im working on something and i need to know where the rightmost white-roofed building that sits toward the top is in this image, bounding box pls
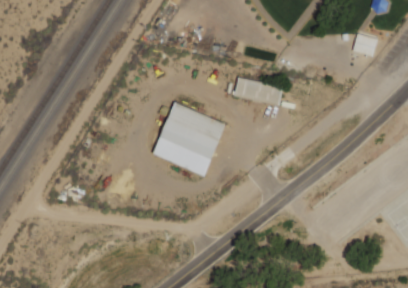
[355,34,378,56]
